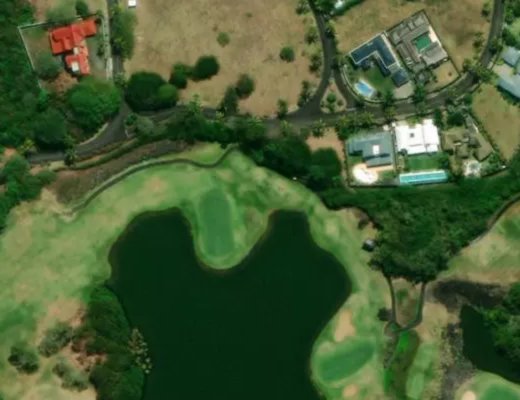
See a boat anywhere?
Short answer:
No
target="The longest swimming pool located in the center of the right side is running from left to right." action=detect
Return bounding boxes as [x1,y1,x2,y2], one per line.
[400,170,447,185]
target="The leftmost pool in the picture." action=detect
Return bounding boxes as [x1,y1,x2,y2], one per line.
[351,80,375,97]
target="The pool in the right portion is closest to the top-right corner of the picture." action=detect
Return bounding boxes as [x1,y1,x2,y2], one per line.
[413,32,432,51]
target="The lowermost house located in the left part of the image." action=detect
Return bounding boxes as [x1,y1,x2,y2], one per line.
[48,18,98,75]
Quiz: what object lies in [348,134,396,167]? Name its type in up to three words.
house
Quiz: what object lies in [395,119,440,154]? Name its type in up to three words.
house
